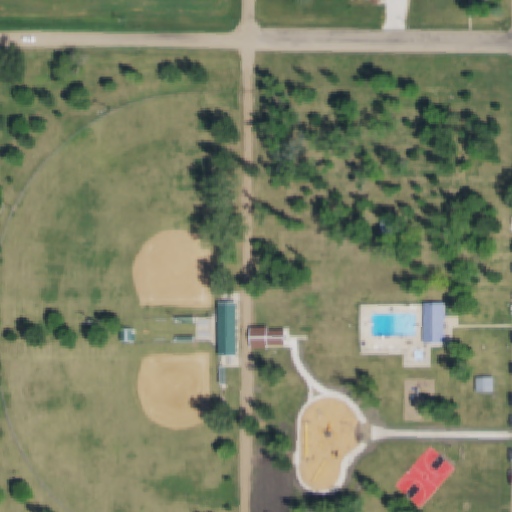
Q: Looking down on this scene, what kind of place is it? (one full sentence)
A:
It's a sports ground.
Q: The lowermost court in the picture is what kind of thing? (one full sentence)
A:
What you see as the lowermost court is a basketball court.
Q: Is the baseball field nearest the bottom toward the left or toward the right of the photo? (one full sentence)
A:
The baseball field nearest the bottom appears in the left half of the scene.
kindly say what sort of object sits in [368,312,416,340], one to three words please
swimming pool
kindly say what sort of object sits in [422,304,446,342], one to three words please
building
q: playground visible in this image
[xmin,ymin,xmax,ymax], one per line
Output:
[300,396,359,488]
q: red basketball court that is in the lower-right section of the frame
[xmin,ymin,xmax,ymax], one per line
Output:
[397,448,454,508]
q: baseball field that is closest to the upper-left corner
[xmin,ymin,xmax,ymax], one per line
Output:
[0,92,213,326]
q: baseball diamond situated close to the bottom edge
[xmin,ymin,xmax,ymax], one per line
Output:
[0,326,213,512]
